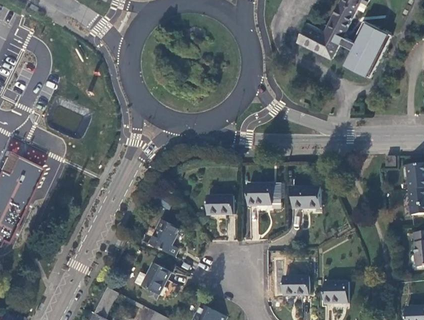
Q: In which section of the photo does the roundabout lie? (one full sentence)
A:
The roundabout is in the top part of the image.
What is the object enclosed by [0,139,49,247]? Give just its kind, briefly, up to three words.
building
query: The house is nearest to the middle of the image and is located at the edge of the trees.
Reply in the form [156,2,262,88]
[202,194,235,216]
